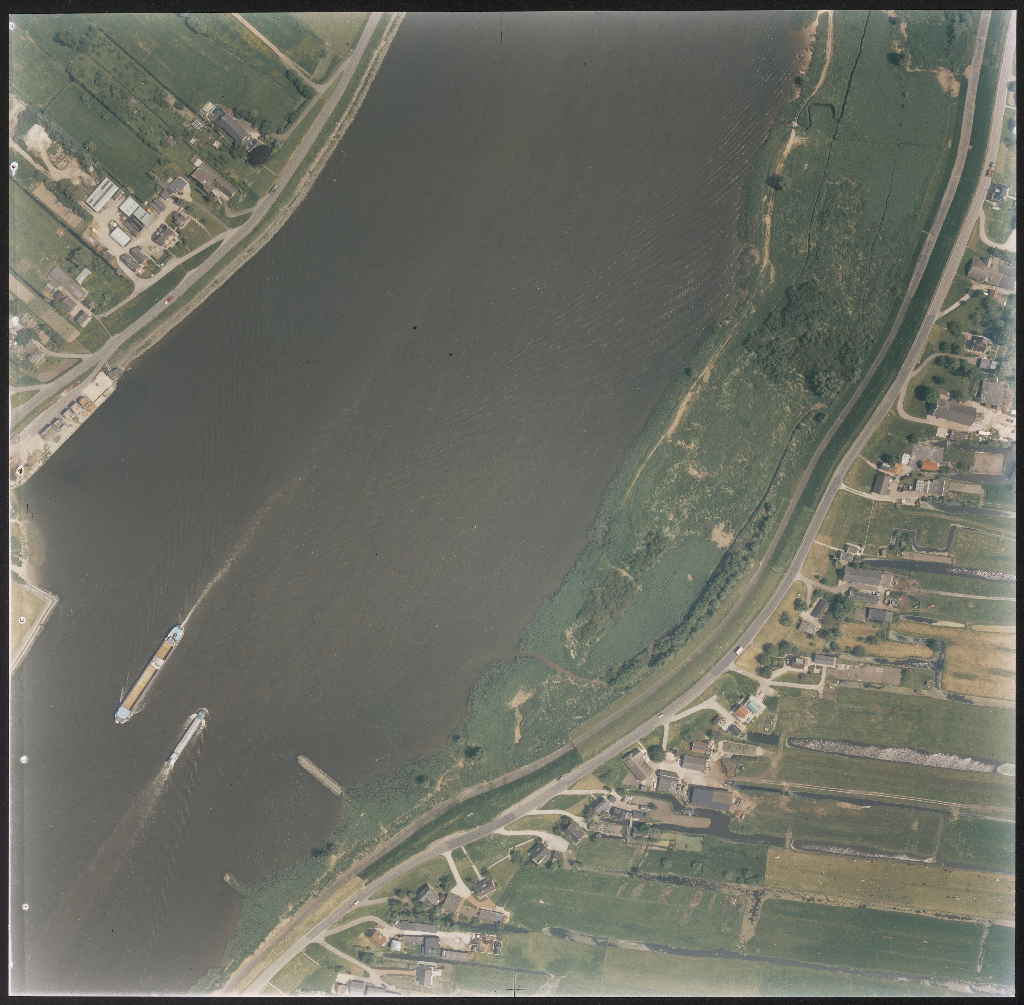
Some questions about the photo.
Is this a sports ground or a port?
port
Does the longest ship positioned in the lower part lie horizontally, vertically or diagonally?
diagonally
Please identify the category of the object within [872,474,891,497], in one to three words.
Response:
barn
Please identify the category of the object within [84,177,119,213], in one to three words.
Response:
building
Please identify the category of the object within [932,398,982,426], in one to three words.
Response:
house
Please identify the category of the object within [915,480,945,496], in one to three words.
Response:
greenhouse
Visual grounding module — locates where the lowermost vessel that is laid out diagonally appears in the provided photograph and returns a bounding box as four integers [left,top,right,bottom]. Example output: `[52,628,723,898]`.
[168,710,204,766]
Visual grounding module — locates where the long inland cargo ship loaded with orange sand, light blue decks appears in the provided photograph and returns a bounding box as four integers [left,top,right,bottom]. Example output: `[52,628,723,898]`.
[113,624,185,723]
